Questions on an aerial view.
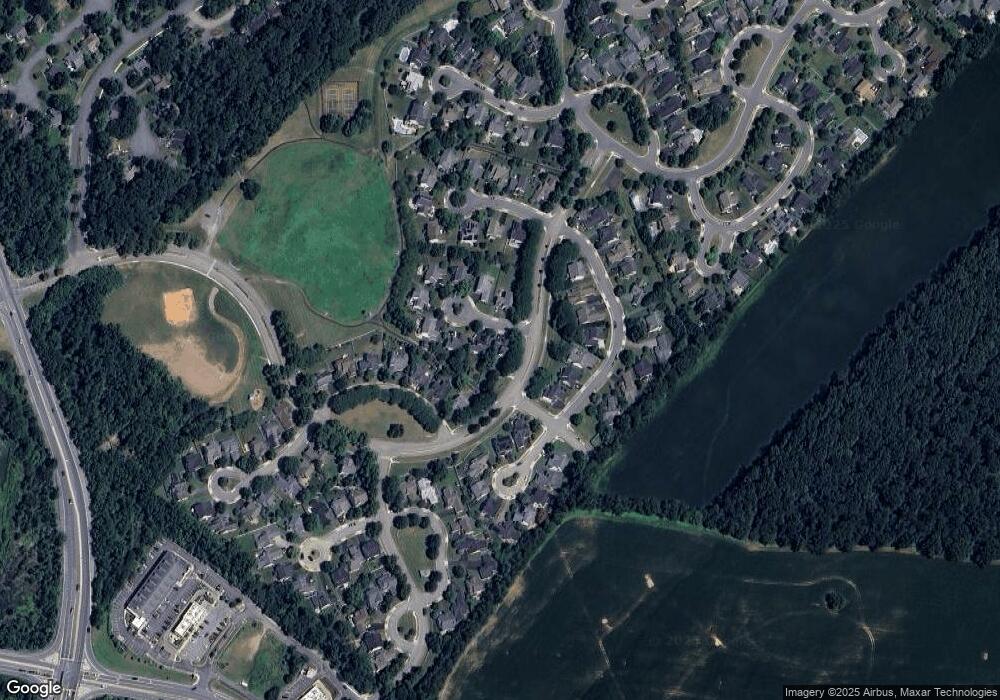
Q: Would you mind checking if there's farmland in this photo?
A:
Yes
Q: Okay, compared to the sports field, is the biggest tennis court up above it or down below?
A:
above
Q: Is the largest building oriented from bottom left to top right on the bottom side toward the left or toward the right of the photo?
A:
left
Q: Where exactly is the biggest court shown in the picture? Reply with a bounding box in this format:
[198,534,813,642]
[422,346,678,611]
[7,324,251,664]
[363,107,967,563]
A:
[322,82,357,116]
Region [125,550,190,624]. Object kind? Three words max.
building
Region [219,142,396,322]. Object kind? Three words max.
sports field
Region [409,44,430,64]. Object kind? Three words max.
house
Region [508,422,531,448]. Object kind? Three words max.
house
